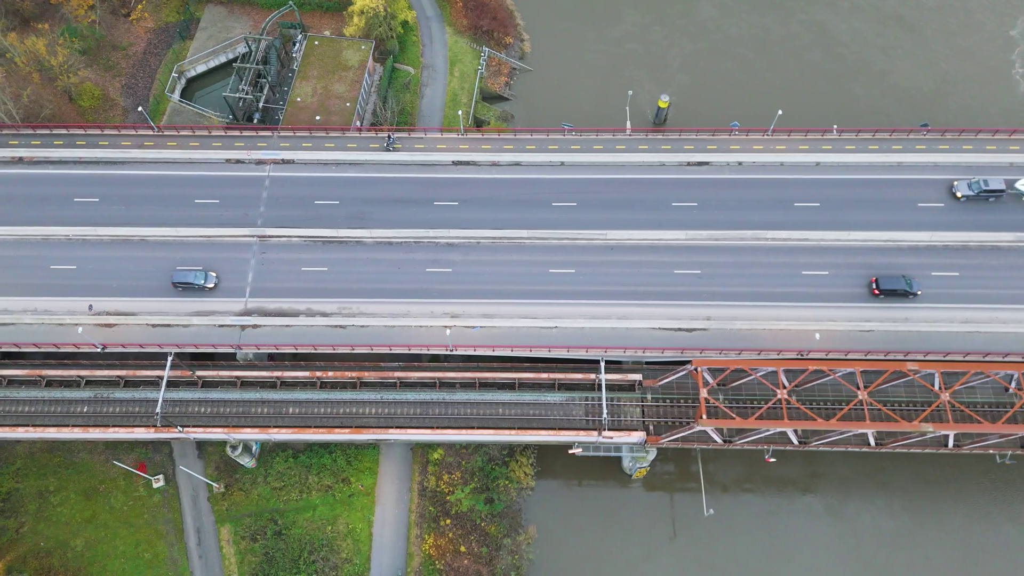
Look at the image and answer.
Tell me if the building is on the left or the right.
left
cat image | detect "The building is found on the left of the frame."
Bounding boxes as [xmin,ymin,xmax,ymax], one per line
[278,34,380,127]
